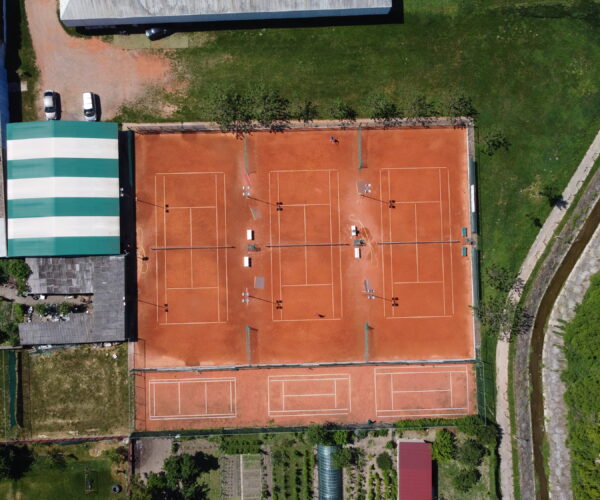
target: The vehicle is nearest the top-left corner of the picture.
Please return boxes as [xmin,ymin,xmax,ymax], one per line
[42,91,56,120]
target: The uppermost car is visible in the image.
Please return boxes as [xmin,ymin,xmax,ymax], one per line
[145,25,171,42]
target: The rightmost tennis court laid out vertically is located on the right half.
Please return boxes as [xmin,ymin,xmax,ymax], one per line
[359,127,475,362]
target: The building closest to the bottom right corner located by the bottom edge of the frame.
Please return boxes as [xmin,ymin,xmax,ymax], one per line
[396,437,434,500]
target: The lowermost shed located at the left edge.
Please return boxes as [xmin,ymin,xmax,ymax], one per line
[19,254,128,346]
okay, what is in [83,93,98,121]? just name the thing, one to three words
car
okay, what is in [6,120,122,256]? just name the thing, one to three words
building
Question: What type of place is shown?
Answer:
sports ground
